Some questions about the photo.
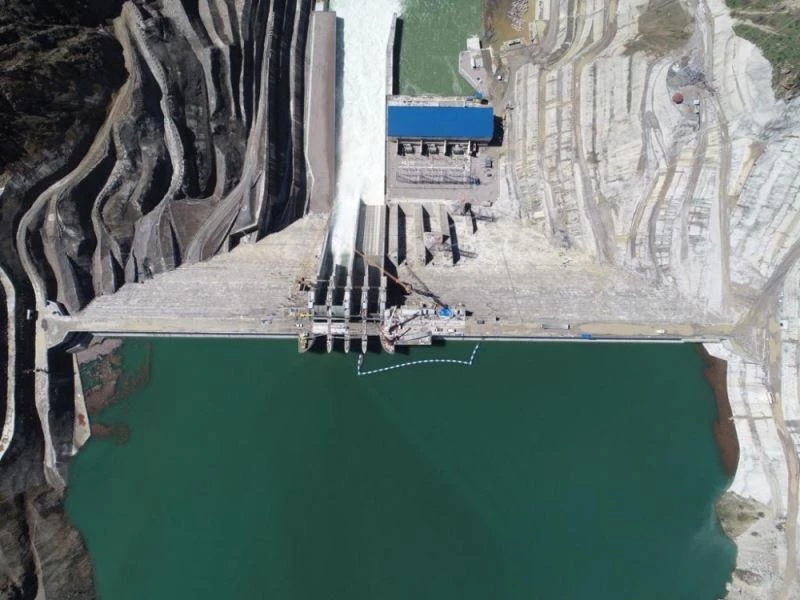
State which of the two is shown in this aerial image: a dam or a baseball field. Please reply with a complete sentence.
This aerial view contains a dam.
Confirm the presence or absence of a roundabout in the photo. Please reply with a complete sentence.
No, the photo shows no roundabout.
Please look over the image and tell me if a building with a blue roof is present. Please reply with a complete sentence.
Yes, there's a building with a blue roof here.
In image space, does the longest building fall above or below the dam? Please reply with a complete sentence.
The longest building is located above the dam in this view.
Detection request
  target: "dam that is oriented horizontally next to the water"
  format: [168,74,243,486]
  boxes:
[67,205,741,354]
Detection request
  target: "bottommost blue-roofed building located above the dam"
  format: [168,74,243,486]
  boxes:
[388,97,494,157]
